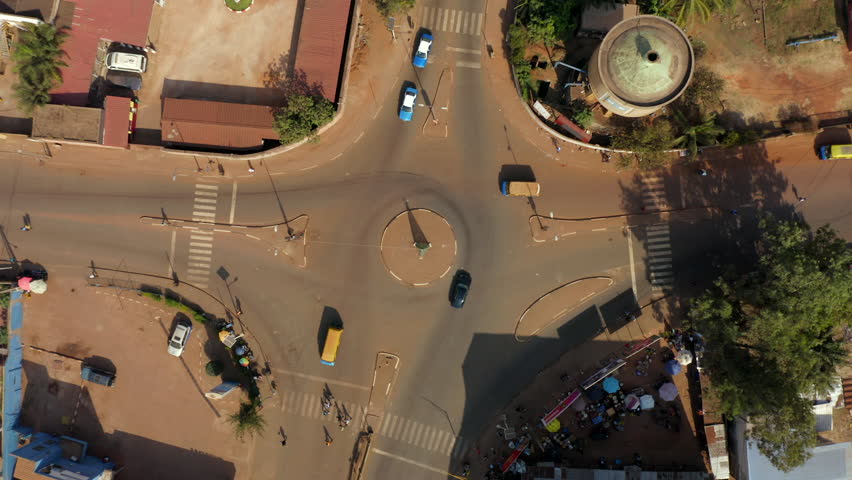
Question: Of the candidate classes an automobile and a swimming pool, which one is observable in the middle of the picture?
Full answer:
It is an automobile that can be seen in the middle of the picture.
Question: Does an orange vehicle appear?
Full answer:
Yes, an orange vehicle appears in the view.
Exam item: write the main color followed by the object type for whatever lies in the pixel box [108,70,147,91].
gray car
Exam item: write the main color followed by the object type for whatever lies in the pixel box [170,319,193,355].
white car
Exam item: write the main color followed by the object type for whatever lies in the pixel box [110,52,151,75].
white vehicle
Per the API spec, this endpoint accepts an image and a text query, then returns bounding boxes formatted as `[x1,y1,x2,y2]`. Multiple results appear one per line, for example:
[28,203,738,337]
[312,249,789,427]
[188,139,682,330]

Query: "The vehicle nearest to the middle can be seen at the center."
[451,272,469,305]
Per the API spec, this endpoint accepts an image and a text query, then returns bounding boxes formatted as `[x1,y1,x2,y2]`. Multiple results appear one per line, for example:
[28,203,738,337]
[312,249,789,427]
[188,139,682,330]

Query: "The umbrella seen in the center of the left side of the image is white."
[32,276,51,296]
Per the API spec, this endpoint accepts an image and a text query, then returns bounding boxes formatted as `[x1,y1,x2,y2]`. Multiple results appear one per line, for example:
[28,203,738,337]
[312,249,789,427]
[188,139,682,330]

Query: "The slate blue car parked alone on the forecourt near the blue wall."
[82,364,116,386]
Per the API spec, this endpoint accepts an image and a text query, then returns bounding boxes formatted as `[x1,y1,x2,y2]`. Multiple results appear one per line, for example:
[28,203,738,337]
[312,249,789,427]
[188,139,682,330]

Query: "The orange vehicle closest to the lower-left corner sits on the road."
[320,325,344,365]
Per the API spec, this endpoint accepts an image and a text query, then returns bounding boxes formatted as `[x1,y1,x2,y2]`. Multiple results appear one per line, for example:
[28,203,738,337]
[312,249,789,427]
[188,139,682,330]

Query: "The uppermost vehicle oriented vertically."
[413,32,433,69]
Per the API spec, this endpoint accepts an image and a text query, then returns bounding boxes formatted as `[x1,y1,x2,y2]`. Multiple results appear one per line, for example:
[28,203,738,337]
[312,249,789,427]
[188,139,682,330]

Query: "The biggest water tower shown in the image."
[587,15,695,118]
